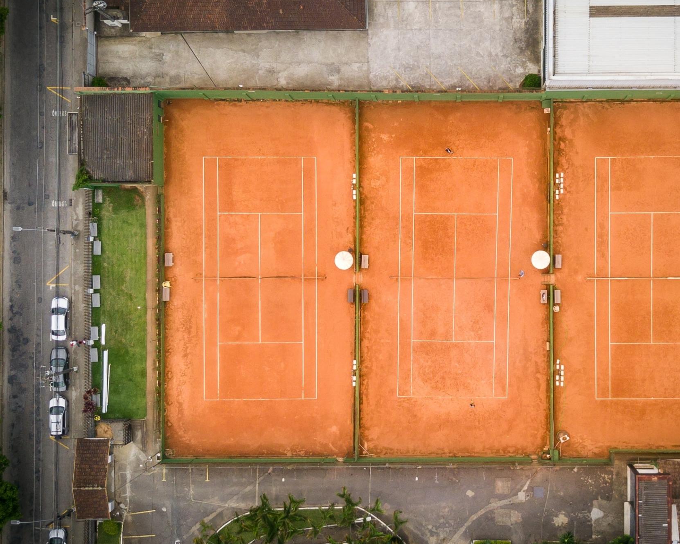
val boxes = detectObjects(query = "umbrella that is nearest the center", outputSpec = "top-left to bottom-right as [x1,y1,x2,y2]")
[334,252,354,270]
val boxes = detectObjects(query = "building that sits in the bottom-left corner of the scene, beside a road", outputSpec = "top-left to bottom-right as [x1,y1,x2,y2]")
[72,438,117,520]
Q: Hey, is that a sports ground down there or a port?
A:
sports ground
